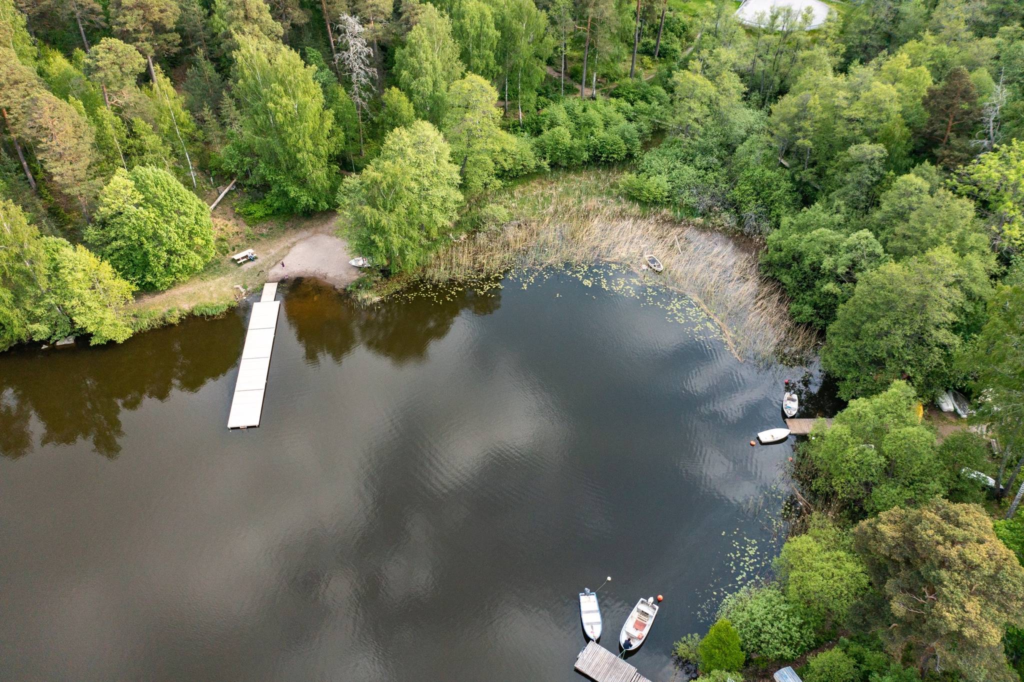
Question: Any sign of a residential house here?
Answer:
No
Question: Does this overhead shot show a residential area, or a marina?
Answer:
marina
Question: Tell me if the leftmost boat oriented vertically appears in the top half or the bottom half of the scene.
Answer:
bottom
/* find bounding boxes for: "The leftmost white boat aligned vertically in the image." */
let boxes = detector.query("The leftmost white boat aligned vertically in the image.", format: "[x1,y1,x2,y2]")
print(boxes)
[579,583,602,642]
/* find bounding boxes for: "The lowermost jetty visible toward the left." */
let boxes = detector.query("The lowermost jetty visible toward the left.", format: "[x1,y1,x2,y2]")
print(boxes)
[228,301,280,433]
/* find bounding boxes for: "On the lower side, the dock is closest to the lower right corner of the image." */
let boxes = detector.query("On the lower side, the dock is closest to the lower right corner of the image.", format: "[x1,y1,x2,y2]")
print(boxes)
[785,410,850,438]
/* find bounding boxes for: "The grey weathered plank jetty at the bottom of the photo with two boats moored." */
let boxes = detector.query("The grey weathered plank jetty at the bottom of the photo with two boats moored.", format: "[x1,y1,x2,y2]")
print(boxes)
[575,641,647,682]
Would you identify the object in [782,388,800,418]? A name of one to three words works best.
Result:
boat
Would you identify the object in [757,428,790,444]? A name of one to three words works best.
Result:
boat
